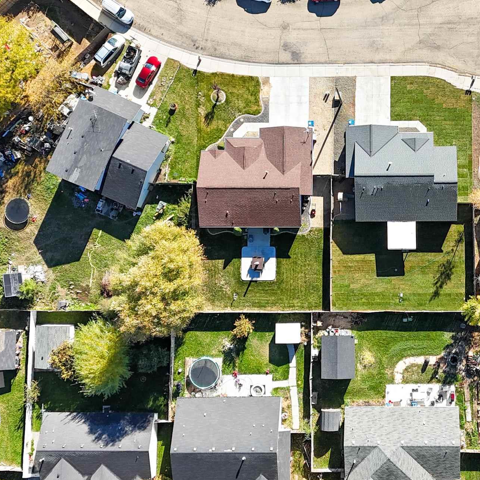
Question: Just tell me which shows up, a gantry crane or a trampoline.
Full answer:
It is a trampoline that can be seen here.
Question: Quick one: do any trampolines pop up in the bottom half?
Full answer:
Yes, I can see a trampoline in the bottom half.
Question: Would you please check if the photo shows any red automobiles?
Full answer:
Yes, the picture does show a red automobile.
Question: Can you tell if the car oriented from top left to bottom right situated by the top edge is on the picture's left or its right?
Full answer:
It is on the left.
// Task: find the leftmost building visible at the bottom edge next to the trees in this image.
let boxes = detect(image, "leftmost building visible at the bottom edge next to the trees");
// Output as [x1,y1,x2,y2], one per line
[36,410,159,480]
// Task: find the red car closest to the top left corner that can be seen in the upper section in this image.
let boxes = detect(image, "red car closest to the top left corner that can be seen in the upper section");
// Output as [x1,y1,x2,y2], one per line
[135,57,162,90]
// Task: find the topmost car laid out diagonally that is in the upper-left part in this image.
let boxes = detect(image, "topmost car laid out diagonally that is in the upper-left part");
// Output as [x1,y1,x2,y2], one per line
[99,0,136,27]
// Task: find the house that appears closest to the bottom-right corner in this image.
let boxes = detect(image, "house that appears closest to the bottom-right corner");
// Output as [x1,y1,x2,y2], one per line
[337,404,460,480]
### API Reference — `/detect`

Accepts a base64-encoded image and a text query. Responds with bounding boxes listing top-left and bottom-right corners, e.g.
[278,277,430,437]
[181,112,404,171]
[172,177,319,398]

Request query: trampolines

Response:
[186,356,221,391]
[6,198,32,222]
